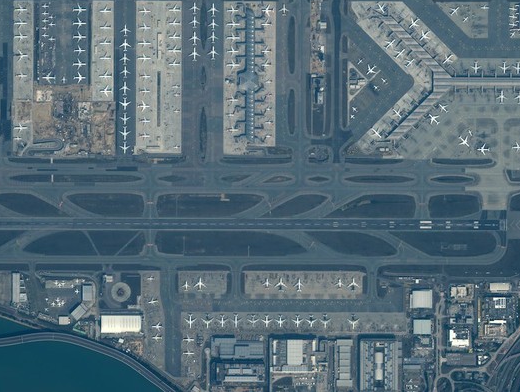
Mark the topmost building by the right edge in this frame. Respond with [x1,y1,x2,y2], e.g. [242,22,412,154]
[380,11,520,138]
